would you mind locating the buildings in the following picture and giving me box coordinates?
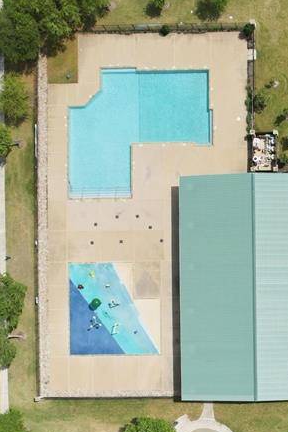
[178,172,288,402]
